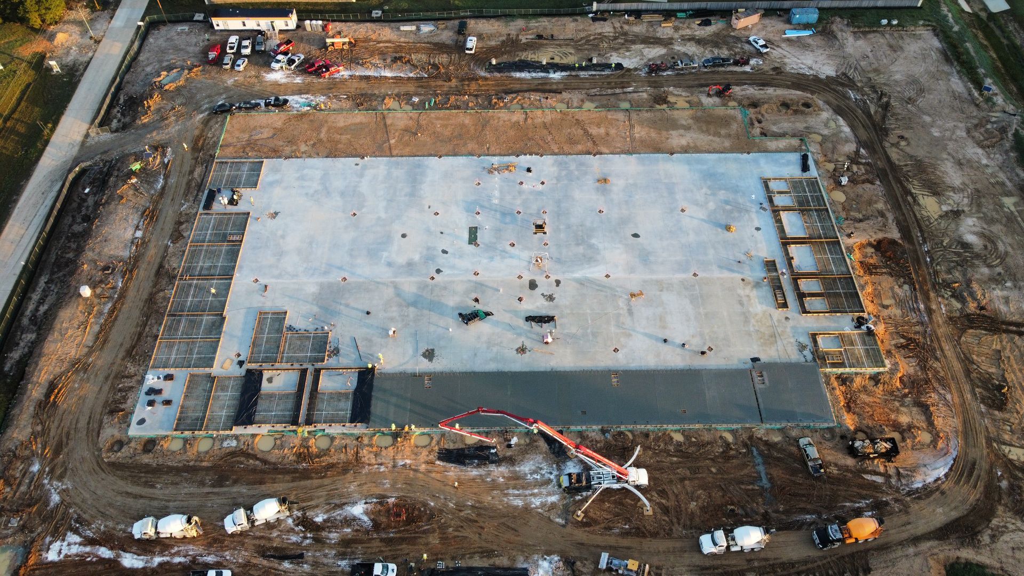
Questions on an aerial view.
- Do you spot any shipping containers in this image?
Yes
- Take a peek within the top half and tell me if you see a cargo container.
Yes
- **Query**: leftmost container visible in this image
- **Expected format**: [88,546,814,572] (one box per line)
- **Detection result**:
[730,6,763,31]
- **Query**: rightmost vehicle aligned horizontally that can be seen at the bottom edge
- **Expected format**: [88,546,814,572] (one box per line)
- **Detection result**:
[808,517,886,549]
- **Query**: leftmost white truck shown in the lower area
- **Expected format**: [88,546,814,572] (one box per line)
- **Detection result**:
[129,514,203,541]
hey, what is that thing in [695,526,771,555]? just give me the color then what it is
white truck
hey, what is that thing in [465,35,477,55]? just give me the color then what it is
white vehicle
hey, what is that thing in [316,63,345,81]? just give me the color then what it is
red vehicle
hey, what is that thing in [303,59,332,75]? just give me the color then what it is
red vehicle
